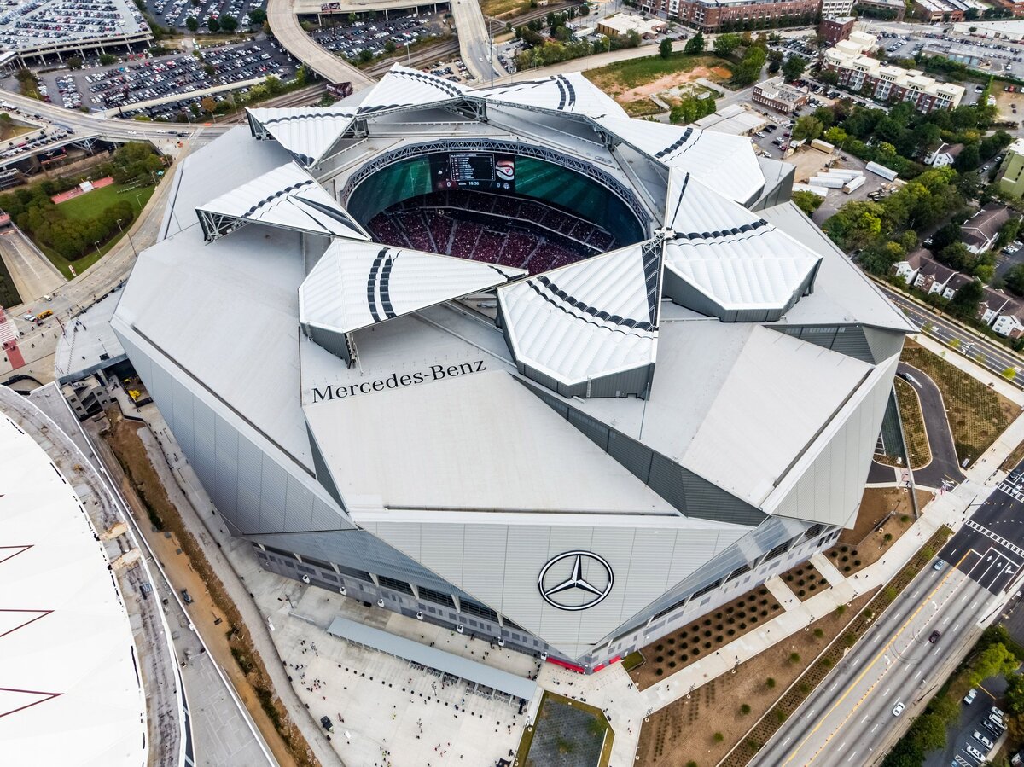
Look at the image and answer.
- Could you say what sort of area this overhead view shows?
sports ground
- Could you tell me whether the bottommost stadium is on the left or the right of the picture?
left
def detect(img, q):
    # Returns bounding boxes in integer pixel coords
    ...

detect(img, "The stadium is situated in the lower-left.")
[0,380,283,767]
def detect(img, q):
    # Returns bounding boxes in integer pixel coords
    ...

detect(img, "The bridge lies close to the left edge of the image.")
[0,120,99,171]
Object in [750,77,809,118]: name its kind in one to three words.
building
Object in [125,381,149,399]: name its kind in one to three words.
work vehicle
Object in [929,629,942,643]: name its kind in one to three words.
vehicle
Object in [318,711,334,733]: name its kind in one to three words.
vehicle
